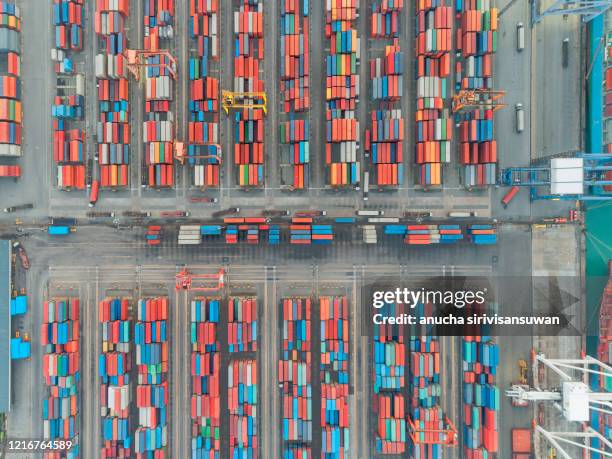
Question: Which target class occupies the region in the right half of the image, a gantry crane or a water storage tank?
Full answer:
You can see a gantry crane in the right half of the image.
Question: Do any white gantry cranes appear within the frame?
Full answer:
Yes, you can see a white gantry crane in this photo.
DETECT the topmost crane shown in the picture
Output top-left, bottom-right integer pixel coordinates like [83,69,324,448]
[531,0,607,26]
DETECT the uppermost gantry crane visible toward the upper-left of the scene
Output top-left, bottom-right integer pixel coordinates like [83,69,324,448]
[123,49,178,78]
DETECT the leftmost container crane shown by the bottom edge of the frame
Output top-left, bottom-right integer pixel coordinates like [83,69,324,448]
[407,415,458,446]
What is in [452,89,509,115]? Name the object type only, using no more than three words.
container crane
